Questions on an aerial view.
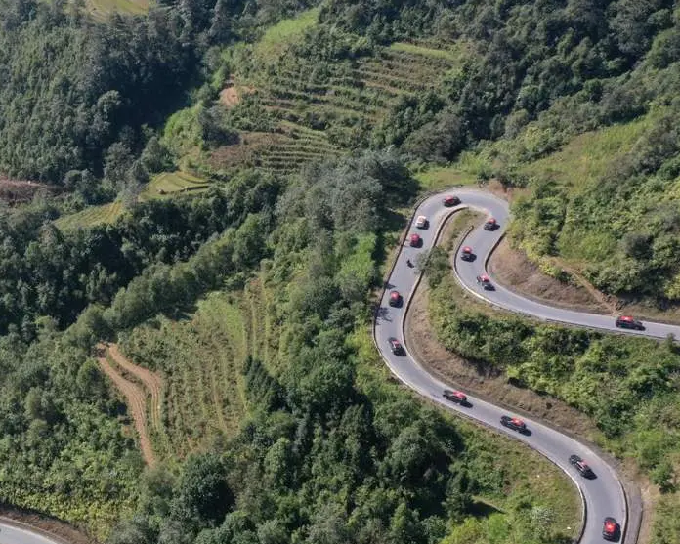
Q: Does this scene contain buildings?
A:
No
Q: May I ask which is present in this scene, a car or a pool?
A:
car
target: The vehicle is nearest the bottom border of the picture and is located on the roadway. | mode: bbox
[601,518,619,543]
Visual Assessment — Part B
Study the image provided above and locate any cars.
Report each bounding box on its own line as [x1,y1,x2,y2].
[443,391,472,408]
[389,292,402,306]
[484,216,497,229]
[474,274,493,289]
[410,237,420,247]
[568,457,595,479]
[443,197,459,206]
[416,215,427,226]
[601,518,619,543]
[462,245,473,260]
[614,314,643,329]
[499,417,529,434]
